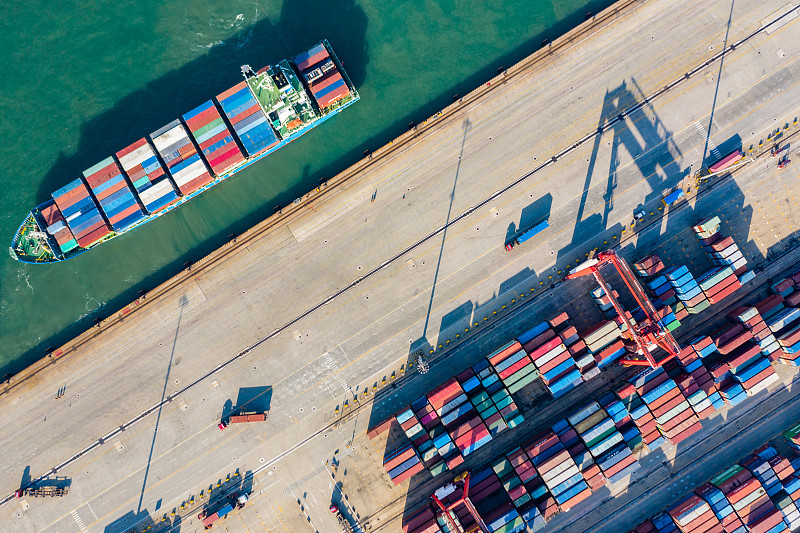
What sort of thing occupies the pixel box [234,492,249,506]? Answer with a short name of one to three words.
vehicle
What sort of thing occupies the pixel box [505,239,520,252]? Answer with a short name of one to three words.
vehicle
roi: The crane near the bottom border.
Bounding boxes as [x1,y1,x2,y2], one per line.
[425,467,498,533]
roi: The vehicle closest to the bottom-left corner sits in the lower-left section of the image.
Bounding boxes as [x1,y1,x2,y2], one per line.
[15,486,67,499]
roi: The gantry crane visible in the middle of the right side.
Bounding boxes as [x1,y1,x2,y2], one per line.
[556,251,684,370]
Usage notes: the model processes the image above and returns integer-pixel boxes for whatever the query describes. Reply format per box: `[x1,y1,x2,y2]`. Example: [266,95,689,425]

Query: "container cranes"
[425,467,498,533]
[556,251,684,370]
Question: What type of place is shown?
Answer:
port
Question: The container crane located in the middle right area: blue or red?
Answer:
red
